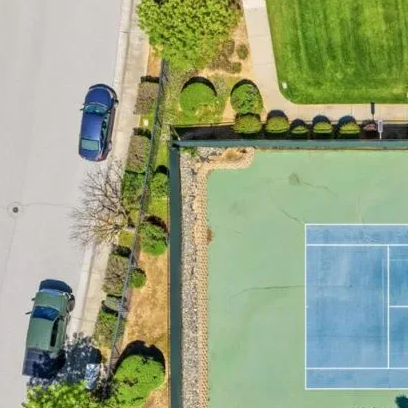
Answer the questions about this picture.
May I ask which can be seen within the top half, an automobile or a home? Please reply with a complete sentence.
There is an automobile within the top half.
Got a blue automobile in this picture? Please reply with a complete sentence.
Yes, the image includes a blue automobile.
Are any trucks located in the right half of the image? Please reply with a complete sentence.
No, no truck is visible in the right half of the image.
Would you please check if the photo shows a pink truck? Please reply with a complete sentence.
No, there's no pink truck here.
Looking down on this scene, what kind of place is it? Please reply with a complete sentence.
The picture captures a sports ground.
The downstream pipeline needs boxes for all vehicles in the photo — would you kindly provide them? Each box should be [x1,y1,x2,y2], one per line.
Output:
[78,87,118,163]
[25,285,75,383]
